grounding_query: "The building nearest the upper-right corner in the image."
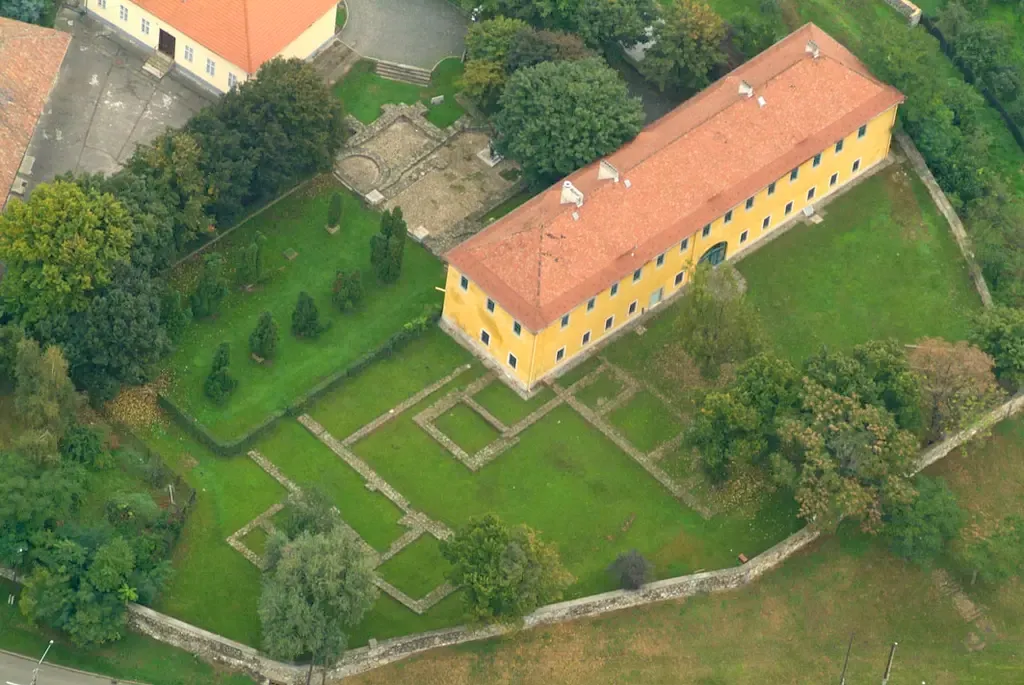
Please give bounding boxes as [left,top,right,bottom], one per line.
[436,22,907,389]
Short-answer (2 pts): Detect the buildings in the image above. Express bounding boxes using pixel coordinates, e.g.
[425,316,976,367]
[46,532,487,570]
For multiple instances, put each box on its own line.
[83,0,351,100]
[0,17,71,219]
[436,22,907,389]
